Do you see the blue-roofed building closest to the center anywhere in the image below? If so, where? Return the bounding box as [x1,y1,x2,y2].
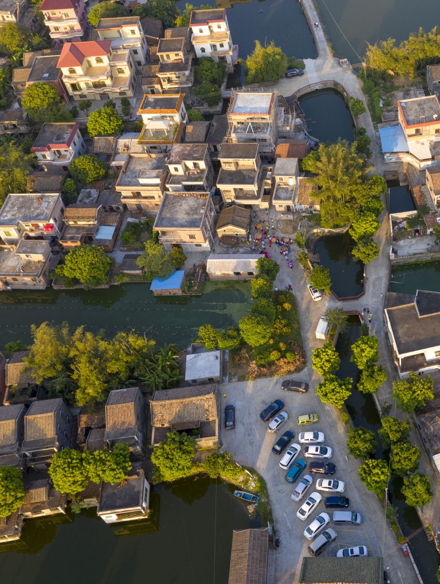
[152,268,187,305]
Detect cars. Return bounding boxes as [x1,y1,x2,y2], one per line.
[303,445,333,460]
[307,528,338,556]
[296,493,324,521]
[278,444,303,470]
[324,494,351,510]
[222,406,236,431]
[297,413,319,427]
[271,431,297,456]
[282,382,309,394]
[299,431,325,444]
[332,510,363,525]
[259,400,285,421]
[337,545,368,558]
[308,461,337,476]
[283,458,308,485]
[315,479,345,493]
[265,412,290,434]
[303,512,332,541]
[285,68,305,79]
[290,475,315,503]
[306,285,323,302]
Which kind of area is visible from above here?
residential area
